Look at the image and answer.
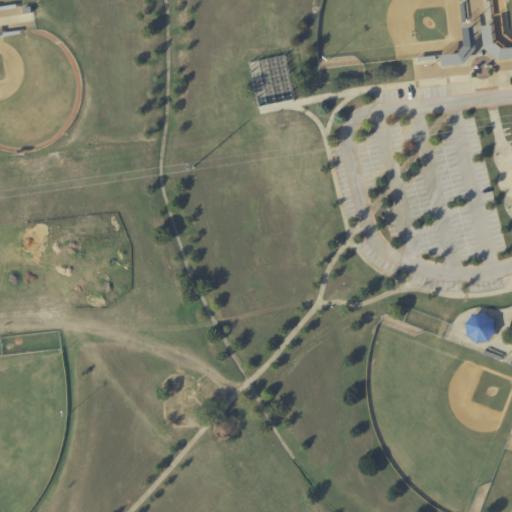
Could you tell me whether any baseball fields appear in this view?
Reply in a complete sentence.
Yes, there's a baseball field here.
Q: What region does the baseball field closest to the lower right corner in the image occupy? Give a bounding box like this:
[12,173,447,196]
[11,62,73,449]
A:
[368,319,512,512]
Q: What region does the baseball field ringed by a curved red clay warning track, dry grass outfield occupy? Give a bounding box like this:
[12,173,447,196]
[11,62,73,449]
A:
[0,28,83,153]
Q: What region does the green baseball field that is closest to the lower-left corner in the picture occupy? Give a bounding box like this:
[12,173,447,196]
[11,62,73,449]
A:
[0,332,66,512]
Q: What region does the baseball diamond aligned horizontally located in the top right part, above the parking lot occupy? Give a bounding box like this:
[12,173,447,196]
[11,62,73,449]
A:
[319,0,461,66]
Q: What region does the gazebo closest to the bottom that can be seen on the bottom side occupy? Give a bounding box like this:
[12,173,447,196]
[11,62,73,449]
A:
[214,420,234,439]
